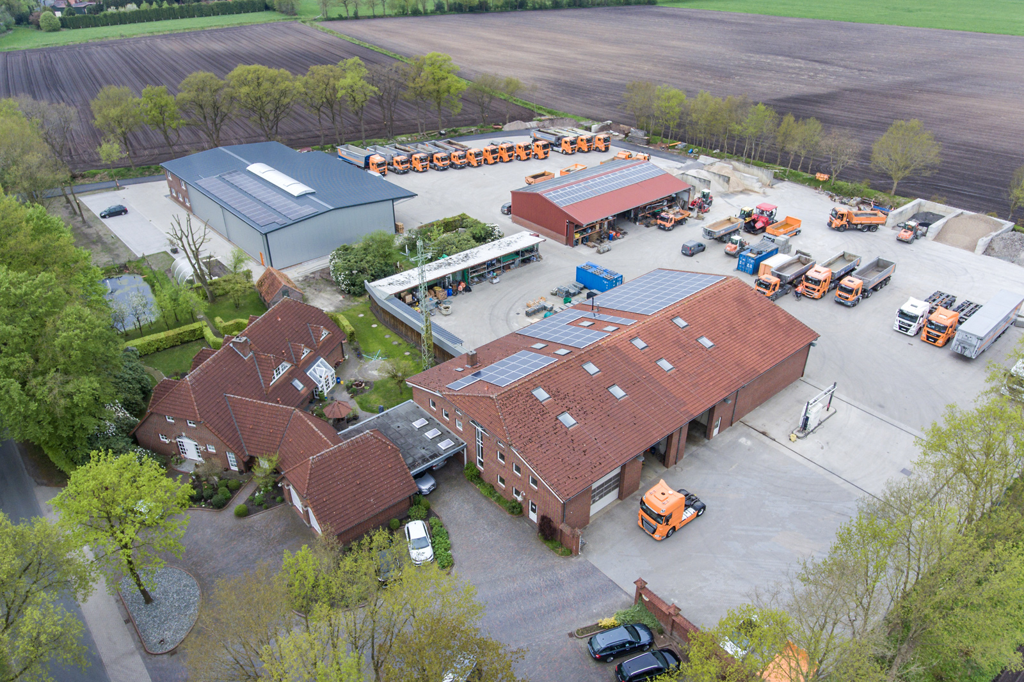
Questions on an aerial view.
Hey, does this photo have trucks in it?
Yes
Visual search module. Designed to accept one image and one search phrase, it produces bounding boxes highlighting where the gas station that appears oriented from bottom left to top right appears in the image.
[796,386,840,442]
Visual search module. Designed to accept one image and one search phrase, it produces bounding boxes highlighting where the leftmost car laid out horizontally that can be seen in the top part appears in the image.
[99,203,128,216]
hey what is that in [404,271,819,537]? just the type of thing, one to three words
building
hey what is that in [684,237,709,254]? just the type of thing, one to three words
vehicle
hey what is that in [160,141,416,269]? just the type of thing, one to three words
building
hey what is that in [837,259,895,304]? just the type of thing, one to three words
truck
